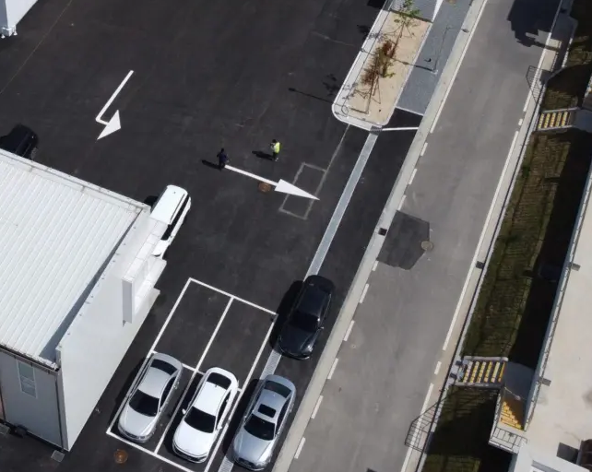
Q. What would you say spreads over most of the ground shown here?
paved ground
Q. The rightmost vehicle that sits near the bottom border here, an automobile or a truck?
automobile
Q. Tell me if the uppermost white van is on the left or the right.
left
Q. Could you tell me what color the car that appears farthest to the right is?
black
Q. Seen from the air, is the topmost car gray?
No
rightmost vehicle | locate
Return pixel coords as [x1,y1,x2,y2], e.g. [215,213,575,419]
[276,276,335,359]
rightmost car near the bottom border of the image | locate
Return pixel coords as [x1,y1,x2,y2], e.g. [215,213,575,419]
[233,369,298,464]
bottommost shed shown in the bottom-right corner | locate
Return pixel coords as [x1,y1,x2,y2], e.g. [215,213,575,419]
[519,446,574,472]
